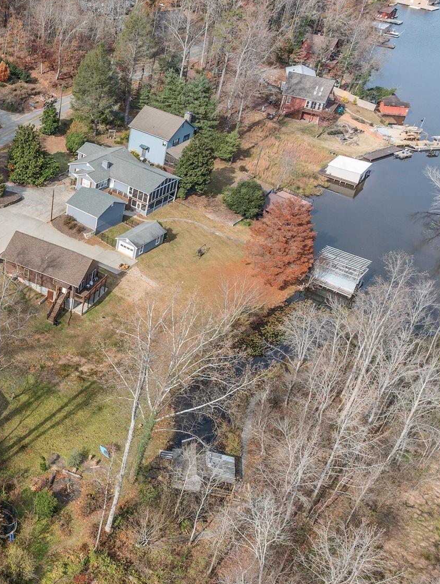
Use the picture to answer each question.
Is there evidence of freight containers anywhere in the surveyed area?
No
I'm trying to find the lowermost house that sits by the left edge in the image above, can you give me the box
[0,230,115,323]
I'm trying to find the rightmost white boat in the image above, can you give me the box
[414,134,440,149]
